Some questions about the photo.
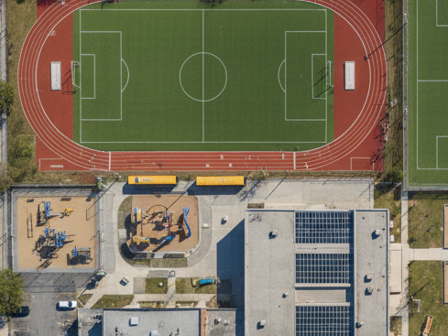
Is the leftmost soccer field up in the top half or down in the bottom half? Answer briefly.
top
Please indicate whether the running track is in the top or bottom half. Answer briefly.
top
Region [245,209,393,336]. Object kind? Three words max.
building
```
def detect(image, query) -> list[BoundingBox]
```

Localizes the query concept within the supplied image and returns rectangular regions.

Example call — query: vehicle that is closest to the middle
[197,175,248,188]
